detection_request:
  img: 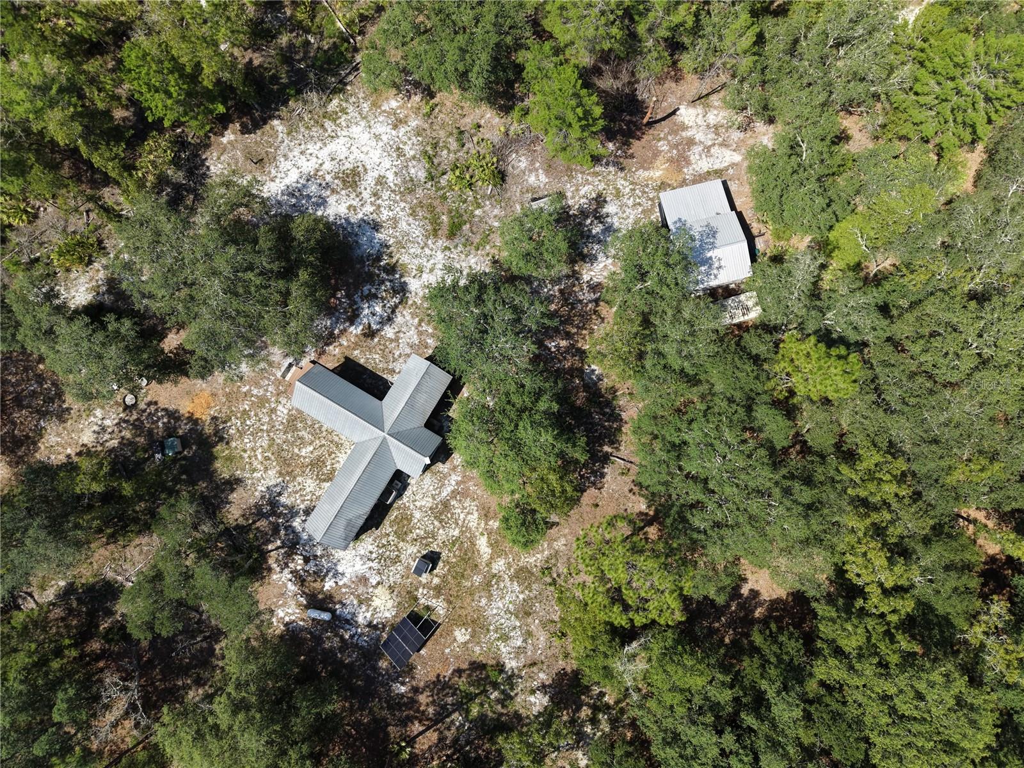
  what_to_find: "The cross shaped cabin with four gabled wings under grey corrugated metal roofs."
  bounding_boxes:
[291,348,451,551]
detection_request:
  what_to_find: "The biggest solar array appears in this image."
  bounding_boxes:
[380,600,453,670]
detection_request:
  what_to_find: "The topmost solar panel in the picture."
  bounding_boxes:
[413,556,432,576]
